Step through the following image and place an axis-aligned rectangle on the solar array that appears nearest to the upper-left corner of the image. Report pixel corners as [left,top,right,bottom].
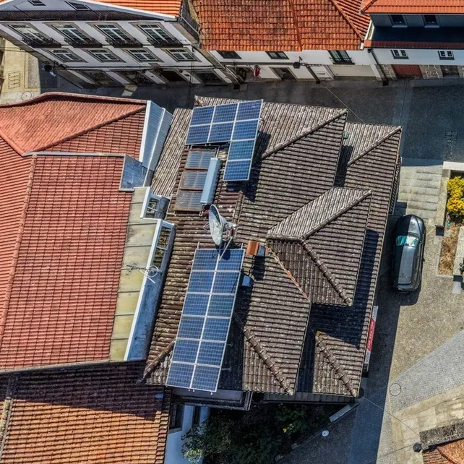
[185,100,268,184]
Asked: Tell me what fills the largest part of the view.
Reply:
buildings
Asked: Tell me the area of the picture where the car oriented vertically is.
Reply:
right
